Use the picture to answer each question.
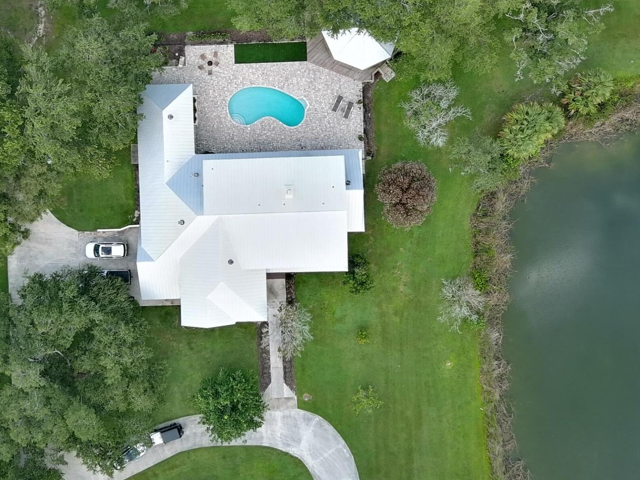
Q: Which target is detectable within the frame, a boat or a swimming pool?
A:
swimming pool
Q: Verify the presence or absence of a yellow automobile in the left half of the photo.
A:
No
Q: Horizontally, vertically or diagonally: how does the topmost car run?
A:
horizontally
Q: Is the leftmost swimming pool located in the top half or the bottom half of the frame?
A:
top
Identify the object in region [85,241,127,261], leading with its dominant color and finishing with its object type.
white car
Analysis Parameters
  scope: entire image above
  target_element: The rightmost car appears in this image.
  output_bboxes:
[146,424,185,449]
